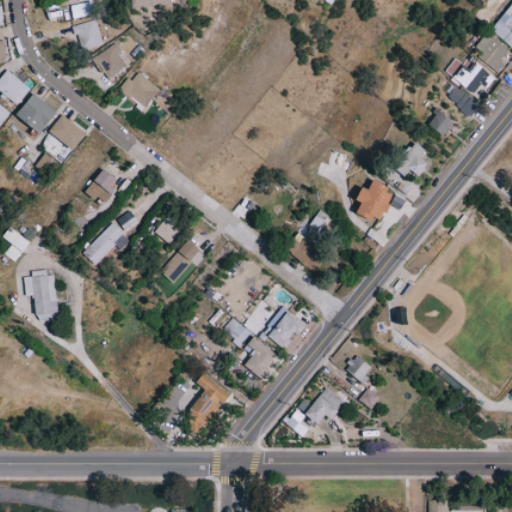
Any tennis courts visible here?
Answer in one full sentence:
No, there's no tennis court here.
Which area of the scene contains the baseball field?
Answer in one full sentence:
You can find the baseball field in the right area of the picture.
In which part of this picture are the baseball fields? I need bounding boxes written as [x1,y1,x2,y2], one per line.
[392,216,512,400]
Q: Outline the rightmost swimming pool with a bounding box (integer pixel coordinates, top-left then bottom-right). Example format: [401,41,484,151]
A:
[274,290,294,304]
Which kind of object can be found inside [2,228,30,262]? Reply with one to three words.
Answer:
barn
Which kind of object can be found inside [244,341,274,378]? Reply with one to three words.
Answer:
house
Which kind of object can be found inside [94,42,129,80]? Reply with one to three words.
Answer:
house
